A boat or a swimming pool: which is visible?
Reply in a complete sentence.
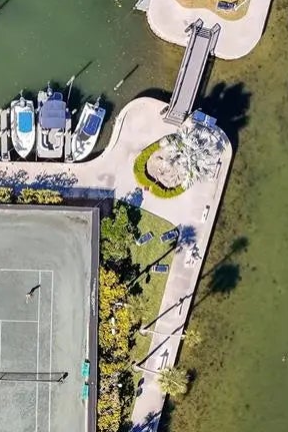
Looking from above, you can make out a boat.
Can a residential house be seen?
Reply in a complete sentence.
No, the scene contains no residential house.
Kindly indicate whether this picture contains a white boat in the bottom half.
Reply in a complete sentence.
No, no white boat can be made out in the bottom half.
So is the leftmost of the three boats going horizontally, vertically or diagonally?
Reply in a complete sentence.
In this picture, the leftmost of the three boats lies vertically.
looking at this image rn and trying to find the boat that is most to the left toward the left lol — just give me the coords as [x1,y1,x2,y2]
[11,91,35,159]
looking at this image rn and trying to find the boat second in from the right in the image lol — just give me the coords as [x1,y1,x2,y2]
[39,92,68,160]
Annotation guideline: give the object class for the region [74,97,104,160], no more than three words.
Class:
boat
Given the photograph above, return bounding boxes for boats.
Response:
[74,97,104,160]
[39,92,68,160]
[11,91,35,159]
